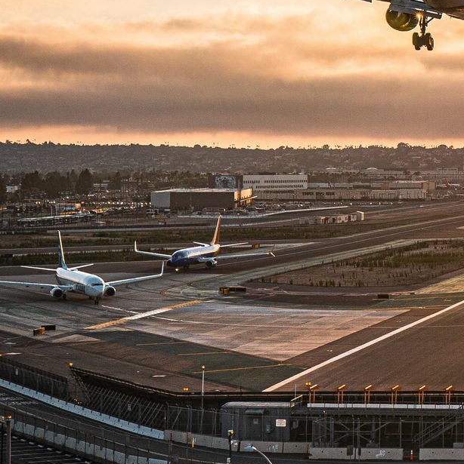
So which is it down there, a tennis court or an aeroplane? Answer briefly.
aeroplane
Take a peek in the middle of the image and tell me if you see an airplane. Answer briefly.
Yes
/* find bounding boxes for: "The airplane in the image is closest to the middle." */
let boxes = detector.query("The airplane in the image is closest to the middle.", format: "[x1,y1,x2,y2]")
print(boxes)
[142,216,274,269]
